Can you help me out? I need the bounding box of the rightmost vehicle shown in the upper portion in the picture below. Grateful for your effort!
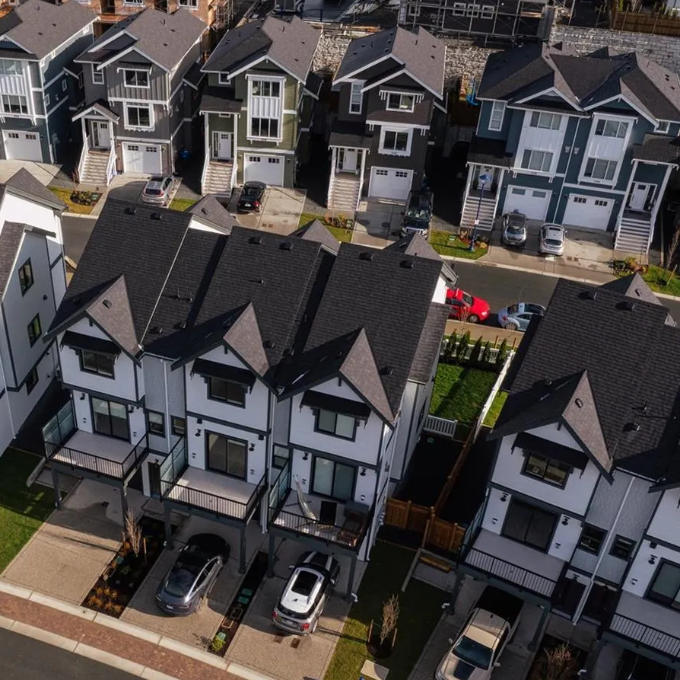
[540,219,573,250]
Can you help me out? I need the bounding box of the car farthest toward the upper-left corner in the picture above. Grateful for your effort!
[145,168,180,197]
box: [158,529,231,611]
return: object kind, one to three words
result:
car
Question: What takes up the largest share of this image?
buildings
